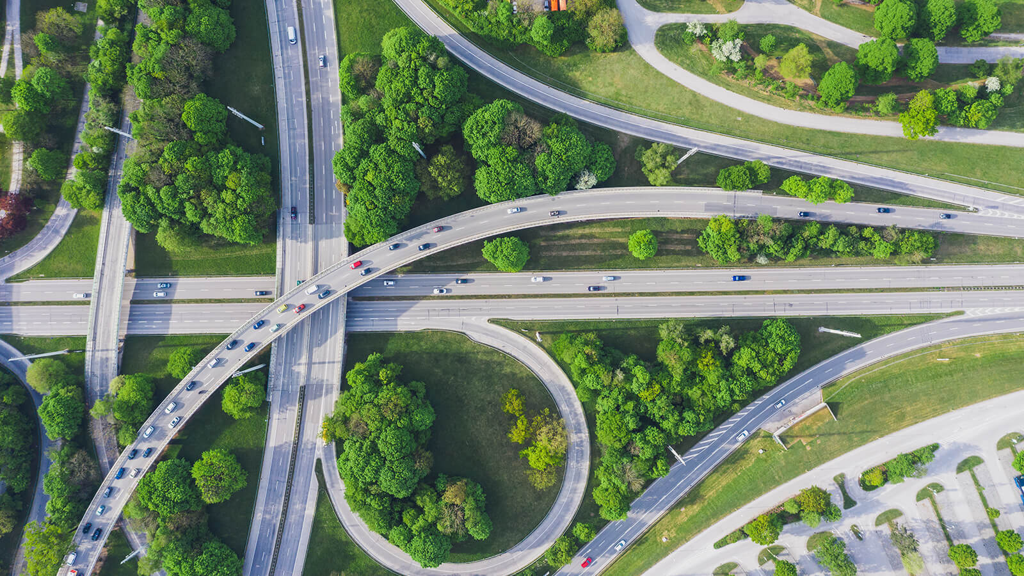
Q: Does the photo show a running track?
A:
No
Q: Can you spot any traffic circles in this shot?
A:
No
